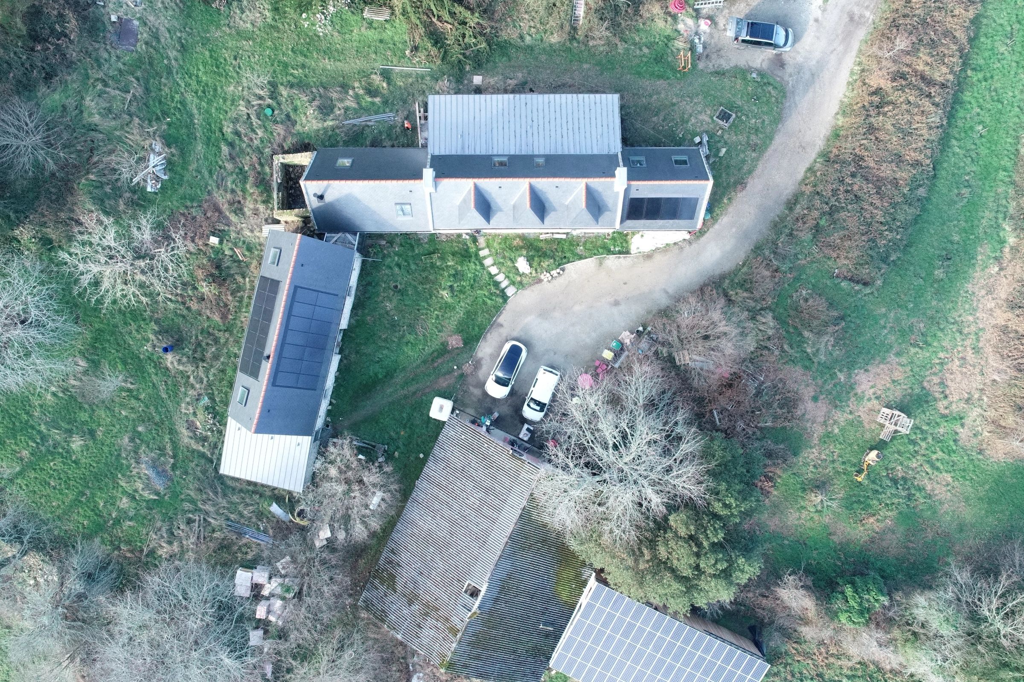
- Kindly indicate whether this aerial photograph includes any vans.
Yes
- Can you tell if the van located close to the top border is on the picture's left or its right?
right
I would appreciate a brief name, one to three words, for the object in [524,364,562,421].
van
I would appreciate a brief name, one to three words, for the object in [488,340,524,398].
car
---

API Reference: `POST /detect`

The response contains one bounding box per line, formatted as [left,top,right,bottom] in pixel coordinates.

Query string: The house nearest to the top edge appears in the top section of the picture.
[300,92,714,235]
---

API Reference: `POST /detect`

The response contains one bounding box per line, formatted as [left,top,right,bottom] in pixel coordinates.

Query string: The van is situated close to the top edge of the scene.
[720,14,791,56]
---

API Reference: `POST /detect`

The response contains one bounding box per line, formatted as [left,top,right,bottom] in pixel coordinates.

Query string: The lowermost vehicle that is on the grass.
[851,444,884,481]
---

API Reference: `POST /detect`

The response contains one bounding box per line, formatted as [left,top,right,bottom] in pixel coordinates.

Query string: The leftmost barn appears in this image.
[219,229,374,494]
